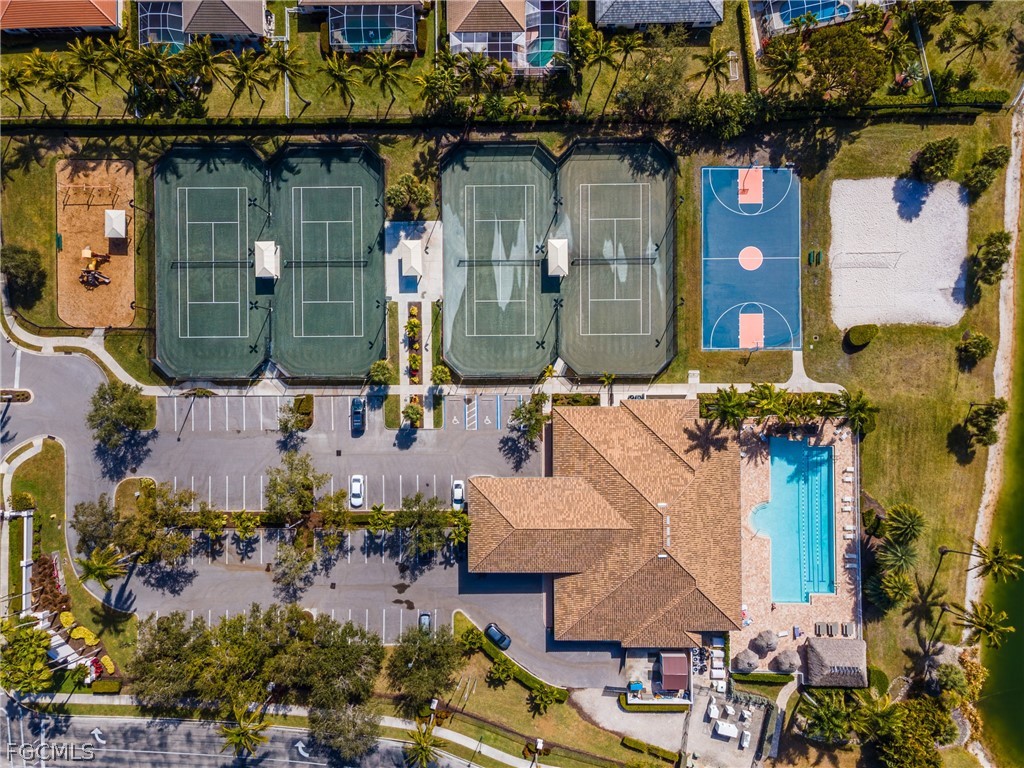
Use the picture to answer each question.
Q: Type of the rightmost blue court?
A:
basketball court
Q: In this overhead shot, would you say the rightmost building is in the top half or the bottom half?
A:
bottom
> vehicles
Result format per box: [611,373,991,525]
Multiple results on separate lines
[418,612,431,631]
[483,624,511,652]
[348,476,363,507]
[451,481,465,512]
[349,398,364,433]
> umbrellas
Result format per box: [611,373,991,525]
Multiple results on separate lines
[753,628,780,655]
[732,647,758,673]
[773,647,800,674]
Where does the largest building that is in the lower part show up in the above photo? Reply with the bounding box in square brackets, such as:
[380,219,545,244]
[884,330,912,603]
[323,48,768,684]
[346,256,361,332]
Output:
[468,400,743,648]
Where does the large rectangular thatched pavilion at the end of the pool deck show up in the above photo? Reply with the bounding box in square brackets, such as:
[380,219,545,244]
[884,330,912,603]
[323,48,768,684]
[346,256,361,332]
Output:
[805,636,870,687]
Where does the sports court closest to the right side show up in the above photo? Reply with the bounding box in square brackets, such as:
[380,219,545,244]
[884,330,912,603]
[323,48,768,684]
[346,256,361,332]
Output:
[829,177,969,331]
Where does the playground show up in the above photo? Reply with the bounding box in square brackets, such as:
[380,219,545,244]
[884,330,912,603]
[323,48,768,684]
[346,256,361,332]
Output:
[56,158,135,329]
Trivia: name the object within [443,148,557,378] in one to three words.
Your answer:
tennis court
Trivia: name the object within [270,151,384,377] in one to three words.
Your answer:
tennis court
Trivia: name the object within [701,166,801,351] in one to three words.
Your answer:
basketball court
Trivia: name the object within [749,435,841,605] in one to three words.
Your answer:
swimming pool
